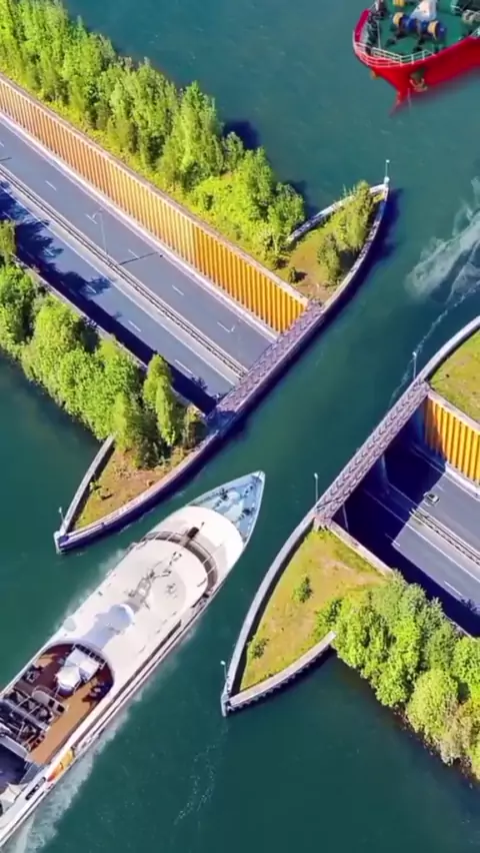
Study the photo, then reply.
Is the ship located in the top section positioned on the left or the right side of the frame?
right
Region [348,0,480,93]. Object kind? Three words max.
ship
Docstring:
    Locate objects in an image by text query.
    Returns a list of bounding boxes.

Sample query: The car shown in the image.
[423,489,442,505]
